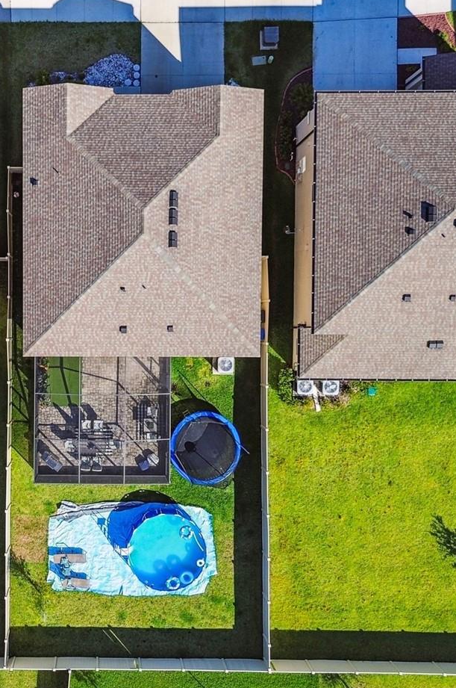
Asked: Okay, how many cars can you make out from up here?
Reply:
0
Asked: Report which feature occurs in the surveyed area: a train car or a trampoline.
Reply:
trampoline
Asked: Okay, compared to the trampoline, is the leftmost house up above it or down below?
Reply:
above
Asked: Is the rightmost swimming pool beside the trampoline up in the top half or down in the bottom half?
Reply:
bottom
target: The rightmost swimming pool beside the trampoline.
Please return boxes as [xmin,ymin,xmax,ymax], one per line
[126,507,208,592]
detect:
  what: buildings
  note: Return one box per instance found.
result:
[292,54,456,382]
[22,83,265,358]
